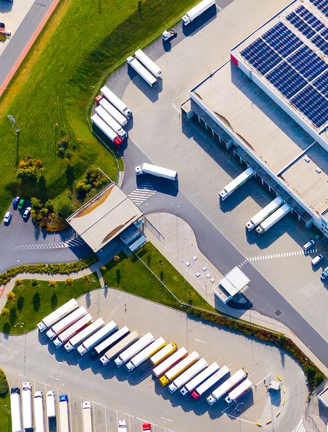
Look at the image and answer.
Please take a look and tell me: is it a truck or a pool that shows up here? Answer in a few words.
truck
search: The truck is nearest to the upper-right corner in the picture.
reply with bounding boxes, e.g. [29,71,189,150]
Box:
[182,0,215,27]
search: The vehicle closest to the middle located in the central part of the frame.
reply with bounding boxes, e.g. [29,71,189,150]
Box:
[137,168,178,183]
